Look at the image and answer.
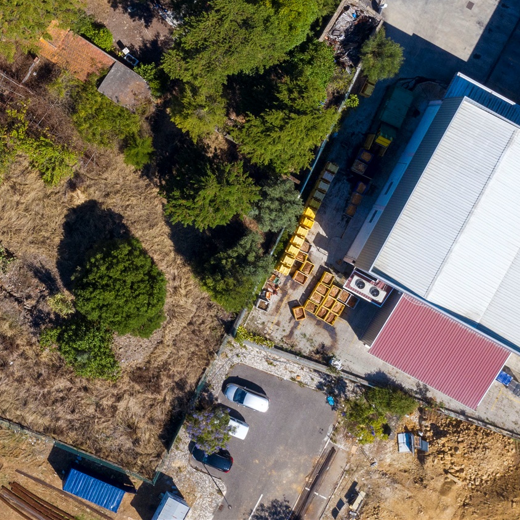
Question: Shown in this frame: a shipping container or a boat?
shipping container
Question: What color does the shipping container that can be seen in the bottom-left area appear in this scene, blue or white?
blue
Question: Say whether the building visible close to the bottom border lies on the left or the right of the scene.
left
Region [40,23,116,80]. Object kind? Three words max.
shed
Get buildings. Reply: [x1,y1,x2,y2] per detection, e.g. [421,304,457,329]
[144,483,190,520]
[98,62,151,108]
[40,23,116,80]
[337,95,520,355]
